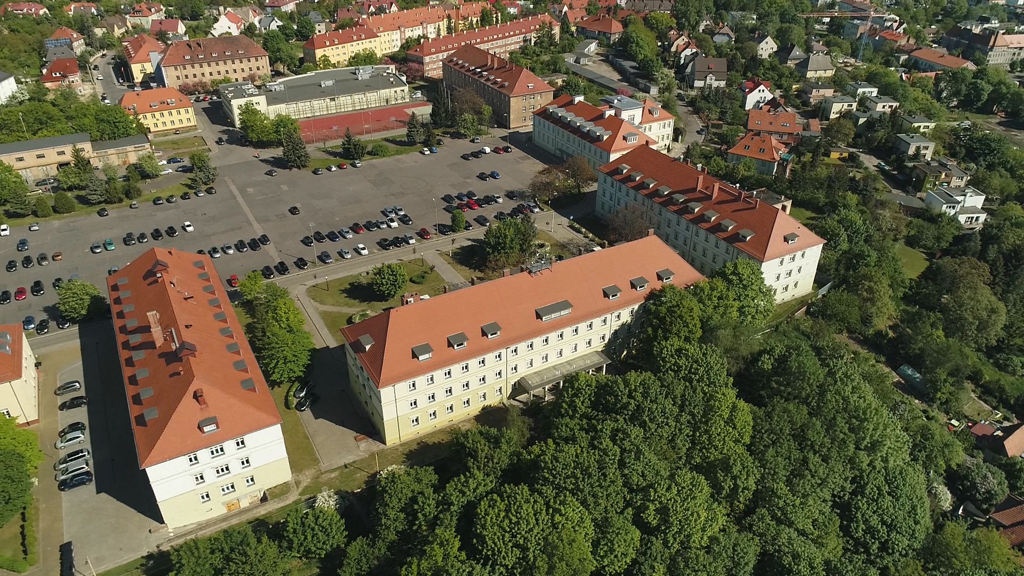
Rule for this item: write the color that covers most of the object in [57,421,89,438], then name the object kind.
black car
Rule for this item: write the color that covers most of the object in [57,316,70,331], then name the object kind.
black vehicle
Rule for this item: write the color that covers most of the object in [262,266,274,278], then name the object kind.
black vehicle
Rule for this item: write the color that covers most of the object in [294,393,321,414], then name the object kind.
black car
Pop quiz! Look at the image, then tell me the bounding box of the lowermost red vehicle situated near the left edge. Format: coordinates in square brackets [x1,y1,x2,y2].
[16,285,28,298]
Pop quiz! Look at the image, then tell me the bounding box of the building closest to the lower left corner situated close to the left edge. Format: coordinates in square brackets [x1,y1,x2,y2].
[0,320,50,438]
